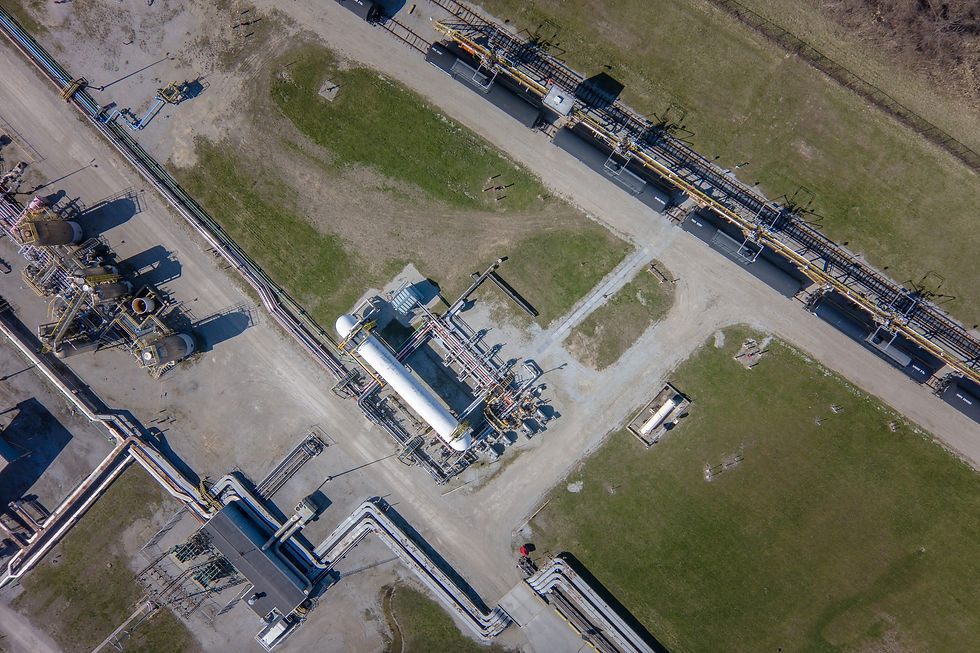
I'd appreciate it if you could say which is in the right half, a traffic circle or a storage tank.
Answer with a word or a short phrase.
storage tank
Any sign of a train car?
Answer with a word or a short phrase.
Yes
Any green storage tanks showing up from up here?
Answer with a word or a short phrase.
No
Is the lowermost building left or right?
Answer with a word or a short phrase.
left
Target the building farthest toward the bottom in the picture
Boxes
[203,505,317,619]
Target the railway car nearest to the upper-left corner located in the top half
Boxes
[338,0,391,30]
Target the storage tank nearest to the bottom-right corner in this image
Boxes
[627,382,691,446]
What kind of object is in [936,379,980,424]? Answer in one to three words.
rail car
